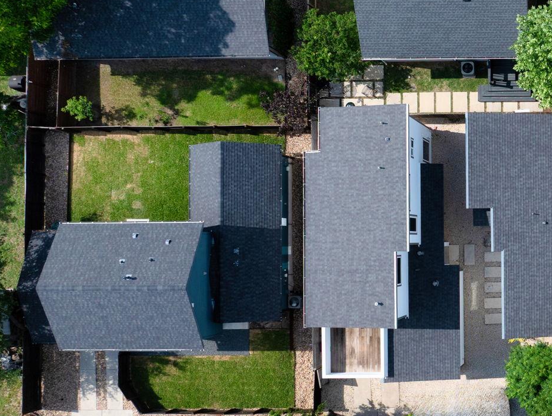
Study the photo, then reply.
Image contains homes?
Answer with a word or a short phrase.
Yes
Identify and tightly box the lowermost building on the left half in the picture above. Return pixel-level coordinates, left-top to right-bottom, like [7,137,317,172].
[18,142,297,357]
